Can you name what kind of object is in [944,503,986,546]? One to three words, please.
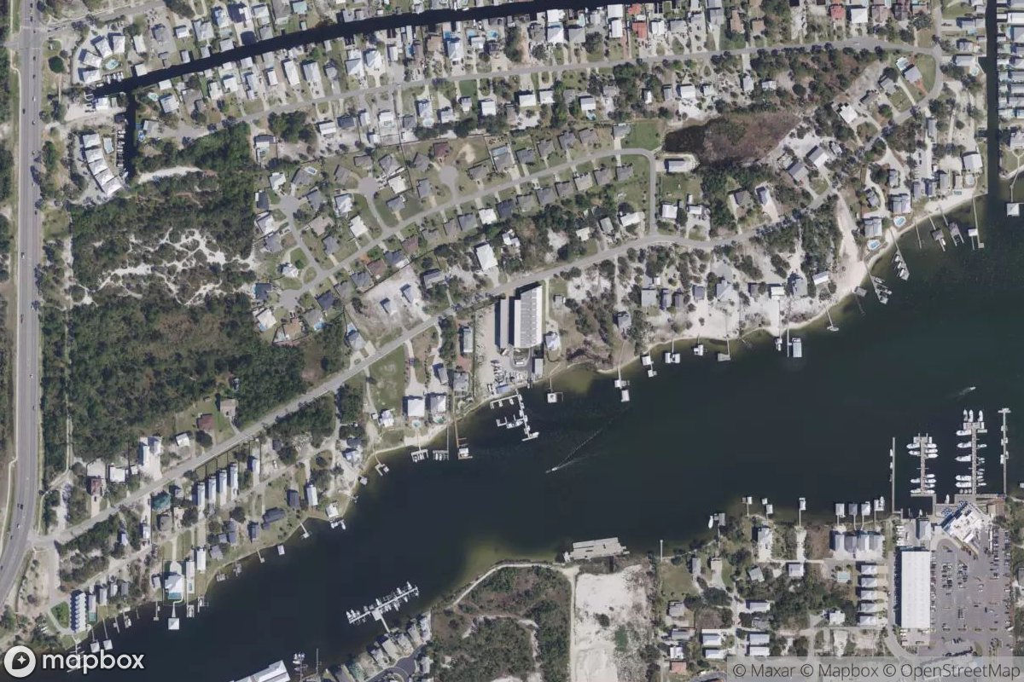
building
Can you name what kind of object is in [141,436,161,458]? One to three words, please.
house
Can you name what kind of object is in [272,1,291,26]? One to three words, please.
house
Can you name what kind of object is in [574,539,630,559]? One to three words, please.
pier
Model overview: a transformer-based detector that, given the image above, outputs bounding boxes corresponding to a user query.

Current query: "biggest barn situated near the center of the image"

[514,285,542,347]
